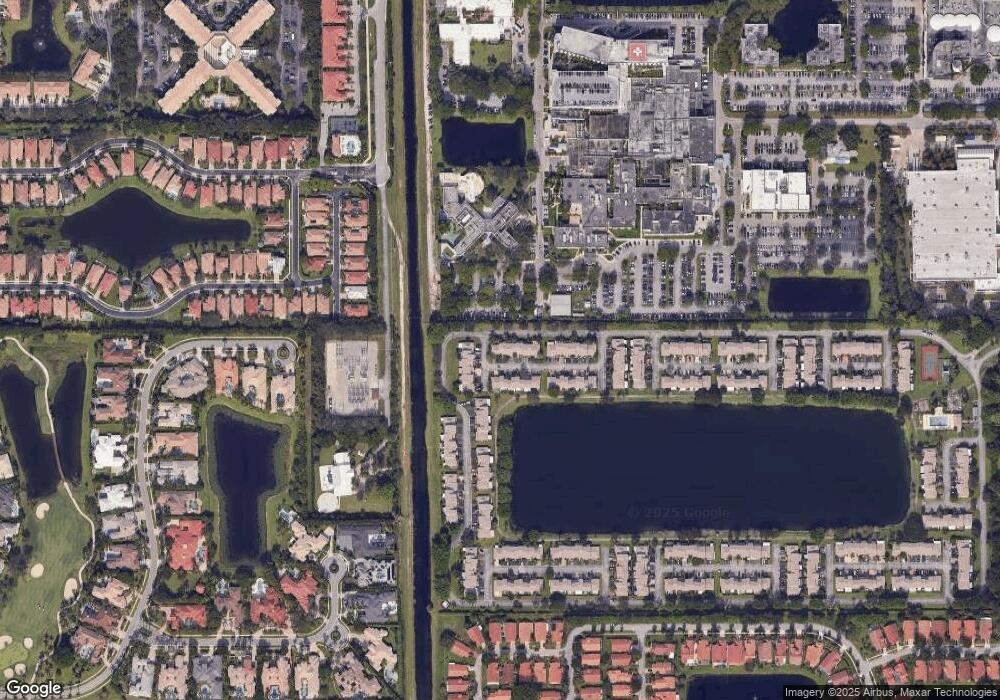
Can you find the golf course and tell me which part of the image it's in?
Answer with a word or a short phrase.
bottom left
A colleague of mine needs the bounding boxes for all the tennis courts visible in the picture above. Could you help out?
[922,345,938,381]
[329,116,357,133]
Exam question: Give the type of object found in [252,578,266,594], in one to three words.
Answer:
swimming pool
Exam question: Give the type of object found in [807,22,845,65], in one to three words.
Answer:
building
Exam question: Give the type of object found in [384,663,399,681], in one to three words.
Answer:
swimming pool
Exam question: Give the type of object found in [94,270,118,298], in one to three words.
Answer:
house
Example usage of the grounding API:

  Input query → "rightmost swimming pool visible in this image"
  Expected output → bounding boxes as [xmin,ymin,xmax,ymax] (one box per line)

[923,407,953,430]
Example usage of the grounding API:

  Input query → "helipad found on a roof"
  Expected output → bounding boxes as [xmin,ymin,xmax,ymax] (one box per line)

[629,37,647,56]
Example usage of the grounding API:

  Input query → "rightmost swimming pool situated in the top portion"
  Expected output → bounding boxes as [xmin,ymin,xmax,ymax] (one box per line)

[341,135,361,157]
